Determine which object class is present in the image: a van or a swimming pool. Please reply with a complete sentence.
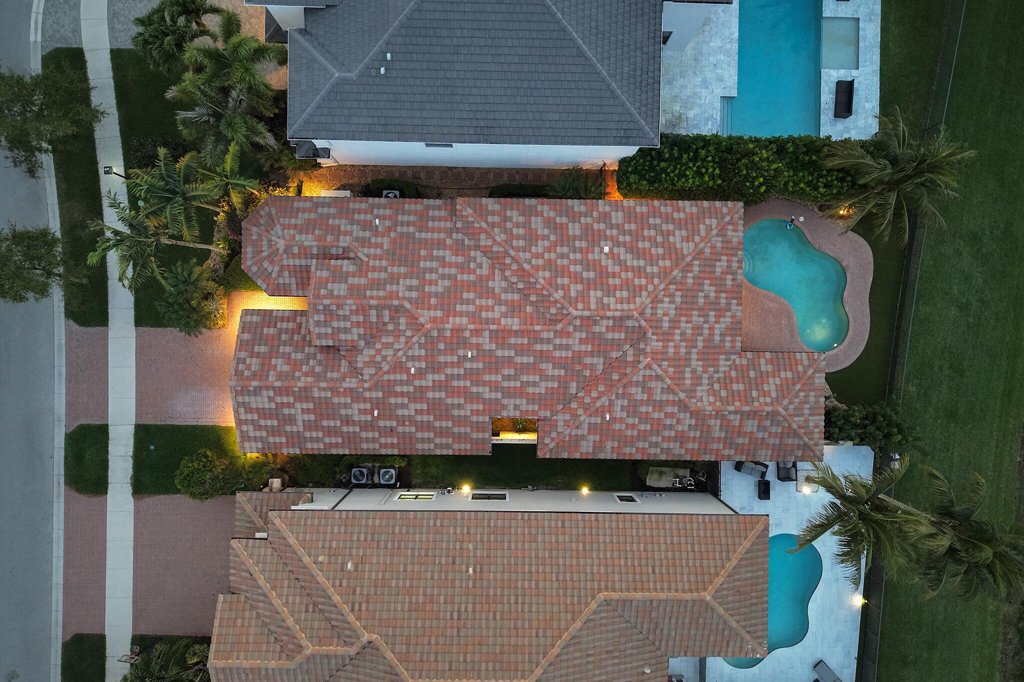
Of the two, only a swimming pool appears.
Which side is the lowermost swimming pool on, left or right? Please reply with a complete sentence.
The lowermost swimming pool appears in the right half of the scene.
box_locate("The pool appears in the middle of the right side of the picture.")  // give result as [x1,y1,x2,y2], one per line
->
[743,213,854,356]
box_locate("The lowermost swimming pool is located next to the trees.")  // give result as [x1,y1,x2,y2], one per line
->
[722,534,823,669]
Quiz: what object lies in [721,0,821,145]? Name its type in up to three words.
swimming pool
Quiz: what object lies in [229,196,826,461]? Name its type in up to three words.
house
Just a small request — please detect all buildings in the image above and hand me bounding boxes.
[242,0,733,171]
[206,488,770,682]
[229,196,826,461]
